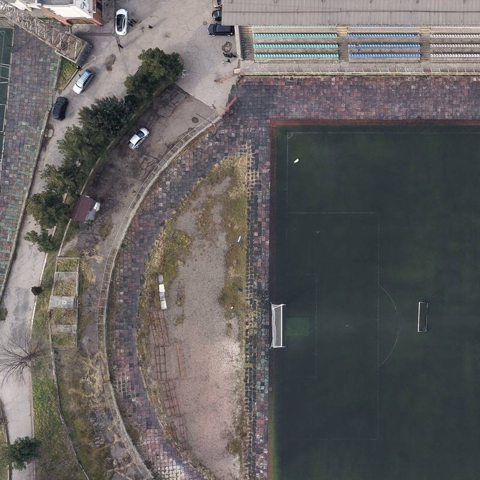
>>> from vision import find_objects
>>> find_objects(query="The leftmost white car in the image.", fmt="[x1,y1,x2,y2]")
[71,66,93,93]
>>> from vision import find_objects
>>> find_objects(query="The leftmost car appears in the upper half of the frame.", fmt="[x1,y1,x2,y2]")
[50,93,67,120]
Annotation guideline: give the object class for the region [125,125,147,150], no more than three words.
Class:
car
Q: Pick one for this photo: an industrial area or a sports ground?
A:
sports ground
